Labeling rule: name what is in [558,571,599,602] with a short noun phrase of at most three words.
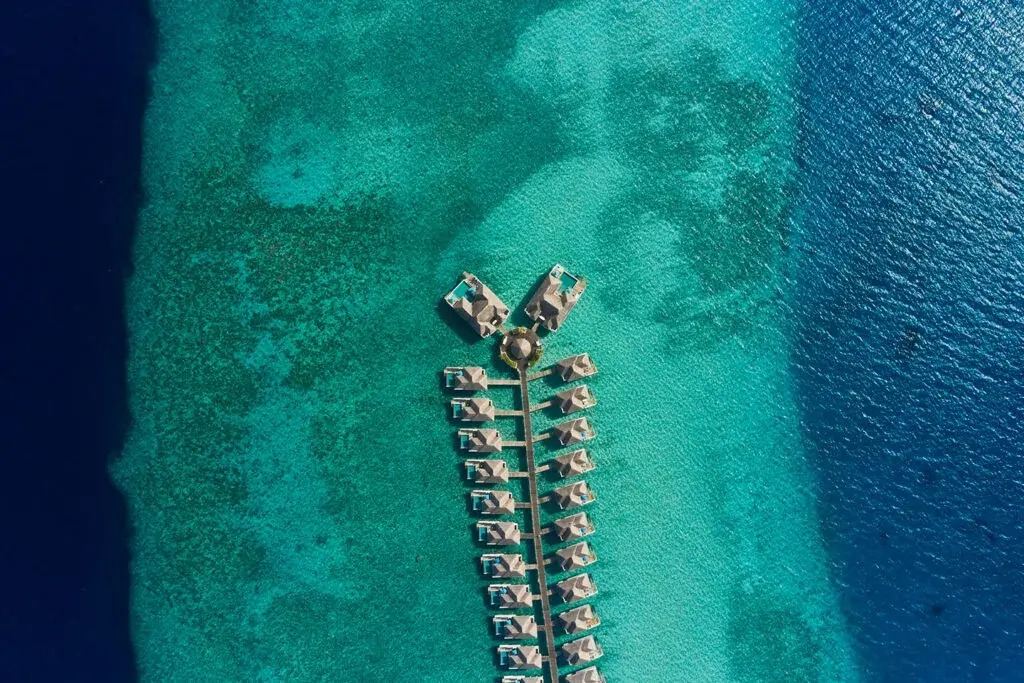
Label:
house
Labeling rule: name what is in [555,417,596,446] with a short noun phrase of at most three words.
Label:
house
